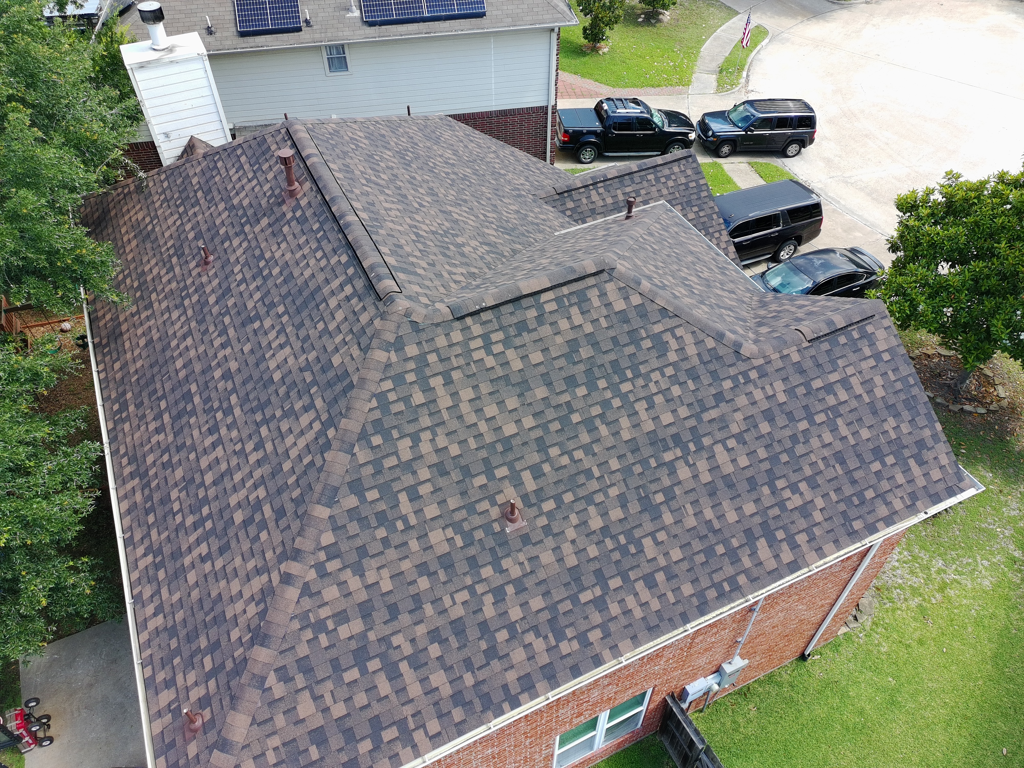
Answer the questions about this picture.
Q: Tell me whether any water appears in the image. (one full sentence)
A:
No, no water is visible.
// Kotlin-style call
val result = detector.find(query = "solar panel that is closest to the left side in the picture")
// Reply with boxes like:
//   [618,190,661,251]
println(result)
[236,0,303,38]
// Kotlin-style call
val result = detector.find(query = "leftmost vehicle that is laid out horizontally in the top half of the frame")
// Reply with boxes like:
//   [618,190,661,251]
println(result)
[554,92,701,164]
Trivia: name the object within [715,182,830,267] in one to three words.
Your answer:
car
